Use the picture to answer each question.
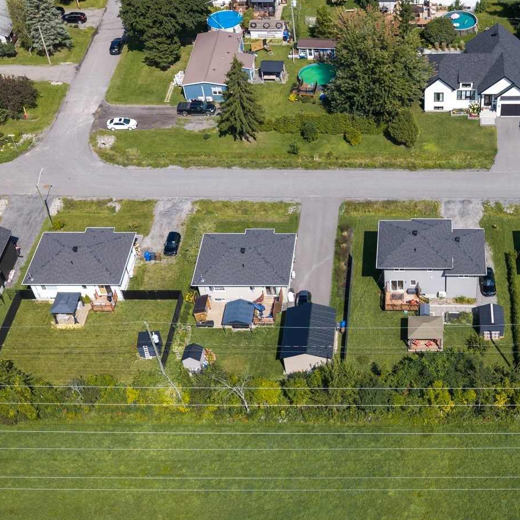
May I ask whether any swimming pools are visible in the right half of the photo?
Yes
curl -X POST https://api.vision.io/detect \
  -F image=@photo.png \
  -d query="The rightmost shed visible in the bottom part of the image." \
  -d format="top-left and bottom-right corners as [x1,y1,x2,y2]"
[478,303,505,337]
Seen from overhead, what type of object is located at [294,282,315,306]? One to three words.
car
